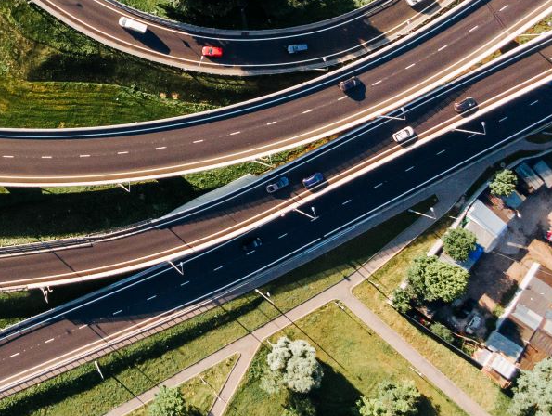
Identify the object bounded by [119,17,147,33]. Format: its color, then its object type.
white vehicle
